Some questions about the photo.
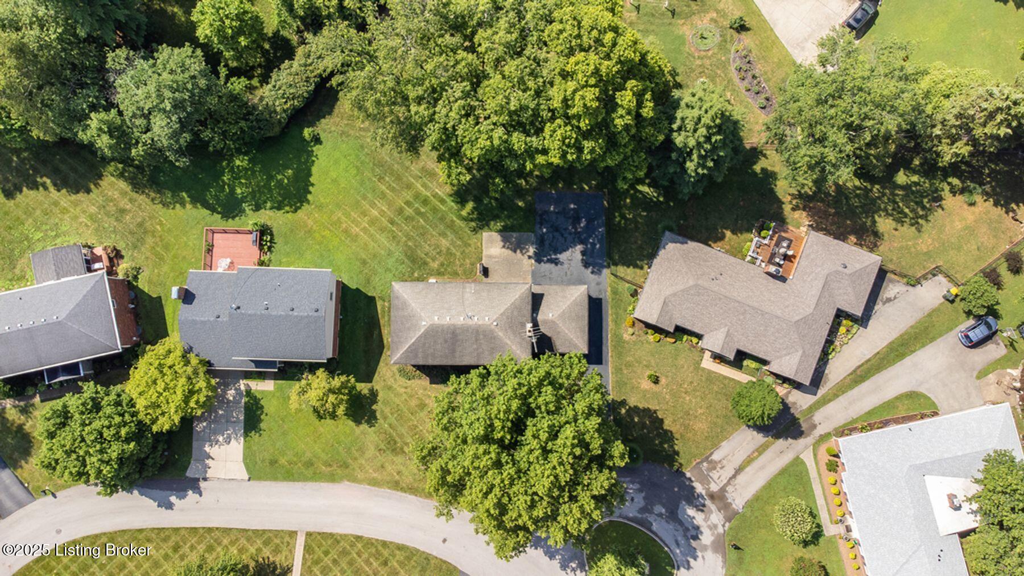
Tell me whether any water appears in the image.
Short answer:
No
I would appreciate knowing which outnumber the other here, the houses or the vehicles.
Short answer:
houses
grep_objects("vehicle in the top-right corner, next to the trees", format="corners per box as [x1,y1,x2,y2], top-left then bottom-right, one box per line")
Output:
[841,0,879,36]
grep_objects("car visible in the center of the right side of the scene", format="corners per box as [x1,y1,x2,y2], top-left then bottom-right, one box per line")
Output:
[955,317,999,349]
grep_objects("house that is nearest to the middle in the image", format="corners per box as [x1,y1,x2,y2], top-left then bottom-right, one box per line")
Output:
[390,281,589,365]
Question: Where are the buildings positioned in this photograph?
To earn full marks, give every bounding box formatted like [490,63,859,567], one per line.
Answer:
[833,399,1023,576]
[0,270,140,386]
[633,230,883,386]
[171,265,341,371]
[390,281,589,365]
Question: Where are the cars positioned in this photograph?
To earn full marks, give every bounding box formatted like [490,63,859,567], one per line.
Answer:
[841,0,879,36]
[955,317,999,349]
